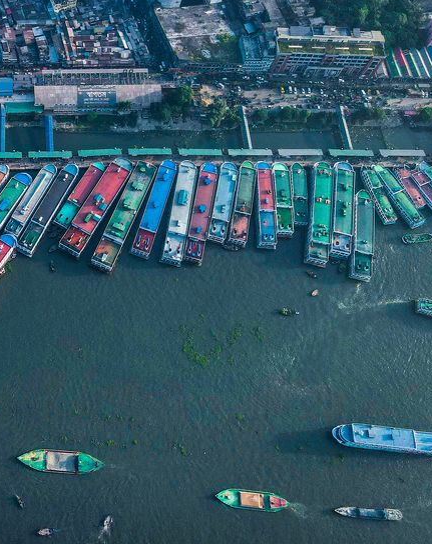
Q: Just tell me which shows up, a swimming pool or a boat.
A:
boat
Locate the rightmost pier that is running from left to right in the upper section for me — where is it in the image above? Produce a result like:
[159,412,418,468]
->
[372,147,429,169]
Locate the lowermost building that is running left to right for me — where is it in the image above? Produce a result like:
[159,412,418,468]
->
[33,84,165,115]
